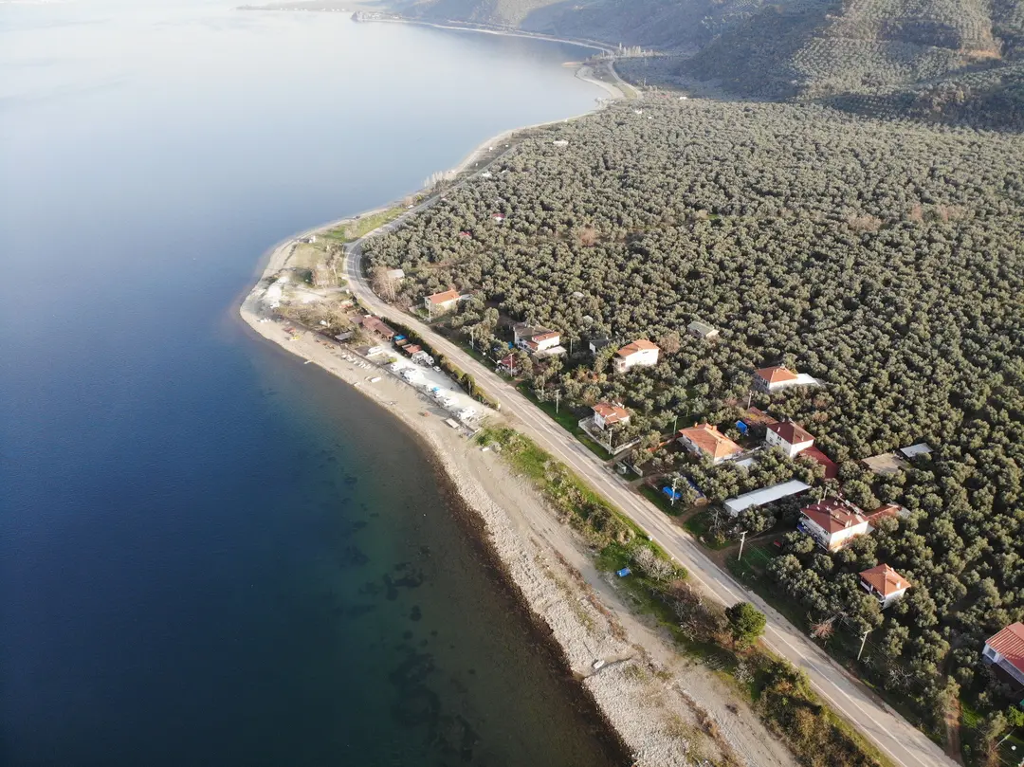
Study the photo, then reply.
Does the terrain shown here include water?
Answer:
Yes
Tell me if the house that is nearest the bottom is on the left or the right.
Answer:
right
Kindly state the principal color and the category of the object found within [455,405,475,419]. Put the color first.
white camper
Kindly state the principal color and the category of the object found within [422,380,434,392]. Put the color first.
white vehicle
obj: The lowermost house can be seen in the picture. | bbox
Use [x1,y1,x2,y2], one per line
[979,628,1024,697]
